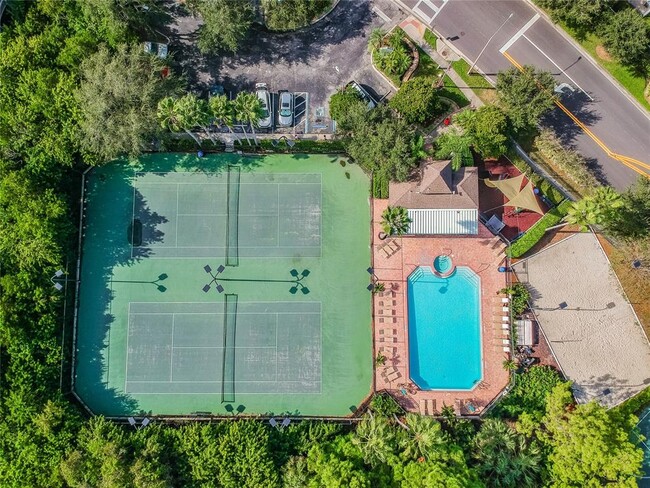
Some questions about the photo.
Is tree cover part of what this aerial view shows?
Yes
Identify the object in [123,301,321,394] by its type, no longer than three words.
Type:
tennis court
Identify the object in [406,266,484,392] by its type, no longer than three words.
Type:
swimming pool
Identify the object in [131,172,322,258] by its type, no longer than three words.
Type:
tennis court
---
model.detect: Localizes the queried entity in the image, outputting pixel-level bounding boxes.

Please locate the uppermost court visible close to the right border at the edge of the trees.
[512,230,650,419]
